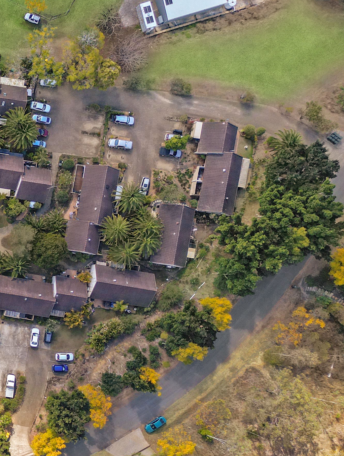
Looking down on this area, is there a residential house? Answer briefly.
Yes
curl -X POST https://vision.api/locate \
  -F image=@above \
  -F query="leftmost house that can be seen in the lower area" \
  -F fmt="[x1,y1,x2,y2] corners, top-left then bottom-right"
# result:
[0,275,59,320]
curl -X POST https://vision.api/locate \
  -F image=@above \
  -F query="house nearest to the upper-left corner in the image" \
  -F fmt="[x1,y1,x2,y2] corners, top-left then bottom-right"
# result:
[0,77,30,125]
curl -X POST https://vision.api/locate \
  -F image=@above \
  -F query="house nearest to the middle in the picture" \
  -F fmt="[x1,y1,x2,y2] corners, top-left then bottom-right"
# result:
[147,204,202,268]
